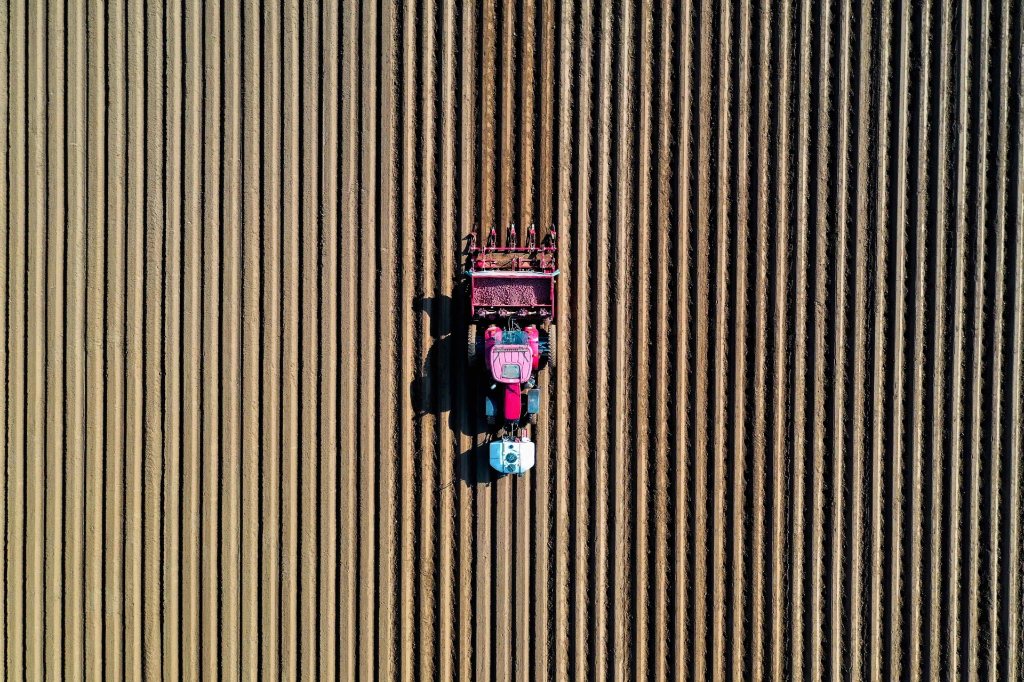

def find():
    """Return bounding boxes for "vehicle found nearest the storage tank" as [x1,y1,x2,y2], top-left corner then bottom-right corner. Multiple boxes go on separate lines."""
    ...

[468,315,556,437]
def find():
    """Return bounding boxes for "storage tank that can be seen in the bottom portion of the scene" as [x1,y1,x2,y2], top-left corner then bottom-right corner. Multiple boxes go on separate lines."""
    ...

[490,429,535,477]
